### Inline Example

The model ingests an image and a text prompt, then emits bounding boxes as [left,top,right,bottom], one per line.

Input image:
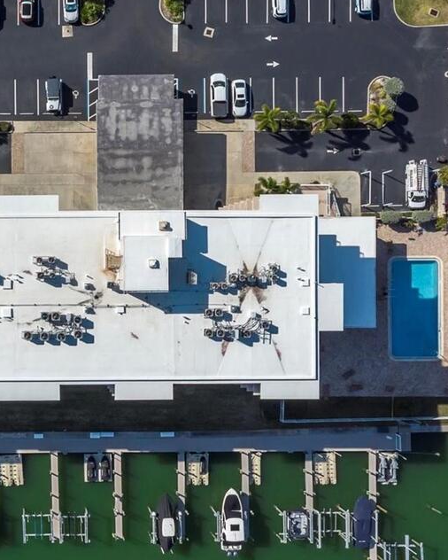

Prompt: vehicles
[210,75,228,120]
[45,75,62,113]
[231,81,248,118]
[354,0,371,18]
[404,157,430,208]
[19,0,35,25]
[272,0,288,21]
[62,0,79,24]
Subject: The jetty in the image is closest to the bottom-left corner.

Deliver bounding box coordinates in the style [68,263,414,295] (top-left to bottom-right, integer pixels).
[49,454,63,539]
